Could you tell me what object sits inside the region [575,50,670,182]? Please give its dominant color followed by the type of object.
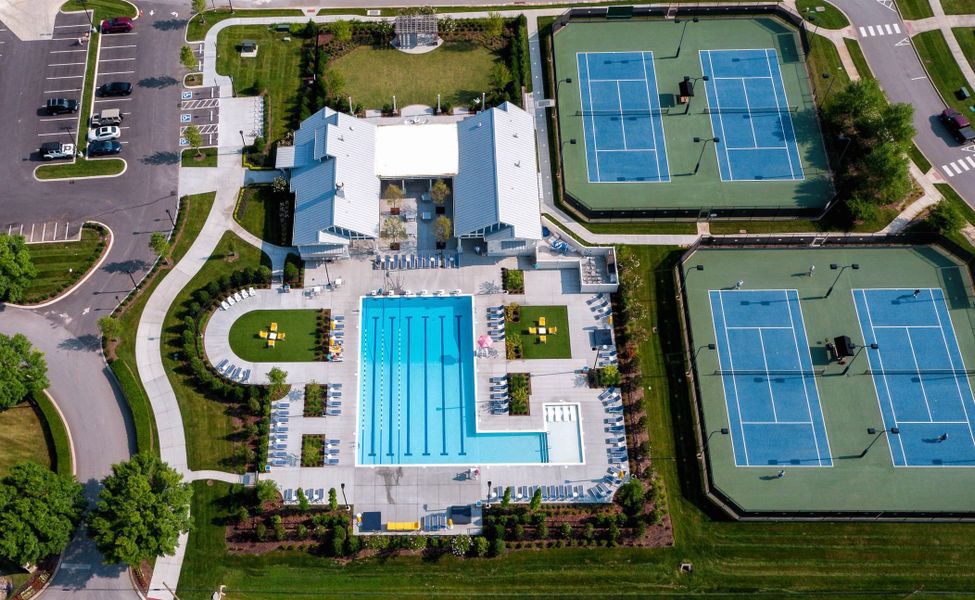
blue tennis court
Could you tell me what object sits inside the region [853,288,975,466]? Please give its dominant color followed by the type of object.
blue tennis court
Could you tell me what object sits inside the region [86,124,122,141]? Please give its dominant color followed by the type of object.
white car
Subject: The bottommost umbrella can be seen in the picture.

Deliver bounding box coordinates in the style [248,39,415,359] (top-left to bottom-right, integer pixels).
[476,335,493,350]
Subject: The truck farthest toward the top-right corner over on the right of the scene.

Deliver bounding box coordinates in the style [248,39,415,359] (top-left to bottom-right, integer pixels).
[942,108,975,144]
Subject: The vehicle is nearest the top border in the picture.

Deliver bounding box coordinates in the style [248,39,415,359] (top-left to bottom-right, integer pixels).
[99,17,134,34]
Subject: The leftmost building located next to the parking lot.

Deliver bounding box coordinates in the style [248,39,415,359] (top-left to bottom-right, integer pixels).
[275,108,383,260]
